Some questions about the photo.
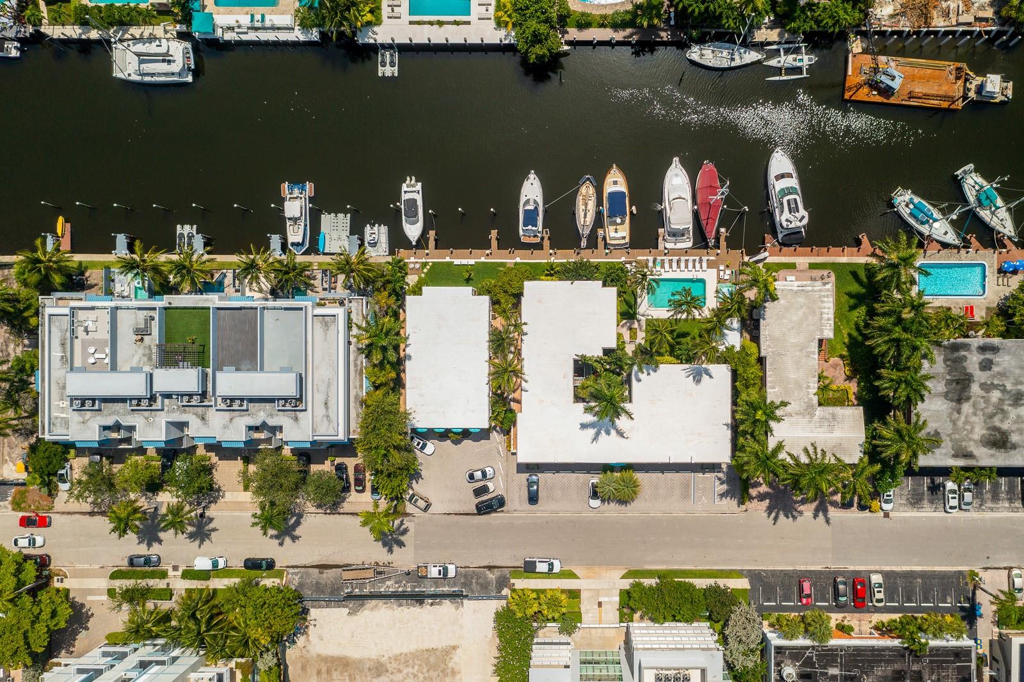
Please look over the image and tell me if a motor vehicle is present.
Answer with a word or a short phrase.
Yes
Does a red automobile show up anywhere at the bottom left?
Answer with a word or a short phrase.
Yes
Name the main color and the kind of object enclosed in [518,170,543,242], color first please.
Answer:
white boat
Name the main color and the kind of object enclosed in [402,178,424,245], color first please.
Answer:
white boat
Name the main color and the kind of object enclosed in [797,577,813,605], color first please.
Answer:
red car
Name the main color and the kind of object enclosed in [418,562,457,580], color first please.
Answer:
white vehicle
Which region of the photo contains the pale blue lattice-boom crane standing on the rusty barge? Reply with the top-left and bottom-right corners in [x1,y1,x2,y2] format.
[846,5,903,100]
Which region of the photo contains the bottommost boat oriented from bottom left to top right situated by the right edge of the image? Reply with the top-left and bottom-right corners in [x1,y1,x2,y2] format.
[949,162,974,180]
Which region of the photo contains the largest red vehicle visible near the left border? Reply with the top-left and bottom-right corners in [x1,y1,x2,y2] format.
[18,510,53,528]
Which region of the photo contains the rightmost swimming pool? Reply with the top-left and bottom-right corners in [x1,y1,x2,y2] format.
[915,259,990,300]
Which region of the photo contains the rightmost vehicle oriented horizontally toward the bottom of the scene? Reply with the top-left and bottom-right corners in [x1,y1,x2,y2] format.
[523,556,561,574]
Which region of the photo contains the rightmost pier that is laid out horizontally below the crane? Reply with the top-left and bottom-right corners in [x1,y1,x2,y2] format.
[764,233,1024,274]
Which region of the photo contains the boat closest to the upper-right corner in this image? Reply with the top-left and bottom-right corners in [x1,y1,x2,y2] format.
[961,63,1012,108]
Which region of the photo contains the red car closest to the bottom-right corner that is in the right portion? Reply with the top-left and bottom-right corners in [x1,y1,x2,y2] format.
[851,577,867,608]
